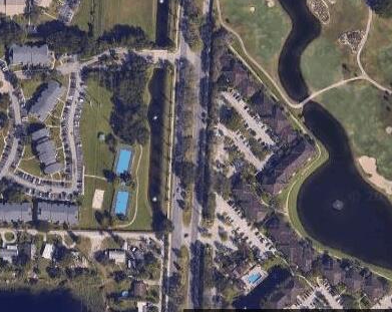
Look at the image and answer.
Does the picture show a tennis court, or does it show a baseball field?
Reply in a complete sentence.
There is a tennis court in the scene.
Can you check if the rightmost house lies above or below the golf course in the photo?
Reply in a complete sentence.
As seen from overhead, the rightmost house falls below the golf course in the picture.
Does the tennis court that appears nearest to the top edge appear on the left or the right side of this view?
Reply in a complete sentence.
It is on the left.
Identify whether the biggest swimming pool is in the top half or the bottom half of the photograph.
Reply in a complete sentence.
The bottom half of the photo is where the biggest swimming pool is.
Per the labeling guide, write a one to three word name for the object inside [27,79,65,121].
building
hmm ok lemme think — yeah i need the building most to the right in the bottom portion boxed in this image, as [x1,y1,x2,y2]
[362,283,389,311]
